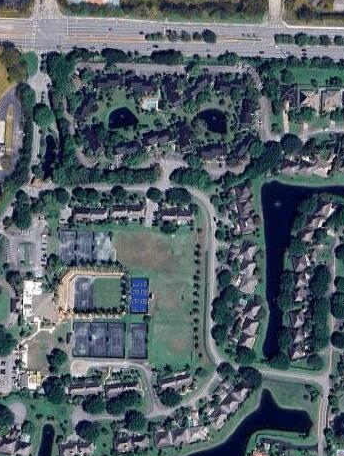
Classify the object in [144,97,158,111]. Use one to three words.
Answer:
swimming pool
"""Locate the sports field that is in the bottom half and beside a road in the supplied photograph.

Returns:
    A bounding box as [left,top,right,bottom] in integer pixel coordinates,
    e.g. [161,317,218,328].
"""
[119,228,193,347]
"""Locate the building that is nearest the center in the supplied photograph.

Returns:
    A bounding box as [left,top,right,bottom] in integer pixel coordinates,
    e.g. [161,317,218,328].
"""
[161,208,195,223]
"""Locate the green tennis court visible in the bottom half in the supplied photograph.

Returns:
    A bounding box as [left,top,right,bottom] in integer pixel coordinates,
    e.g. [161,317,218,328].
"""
[94,277,122,311]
